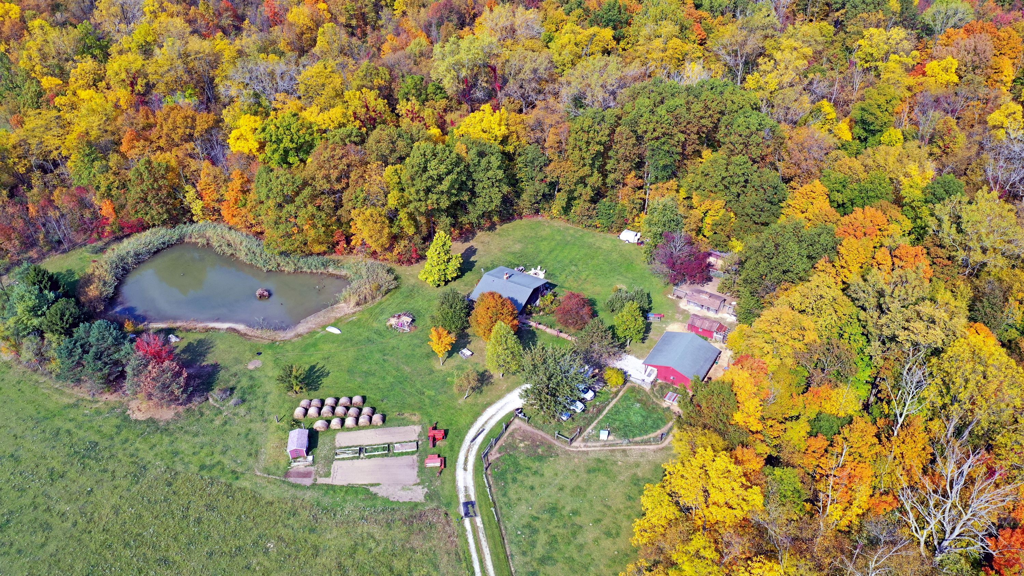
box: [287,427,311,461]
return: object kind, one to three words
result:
shed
